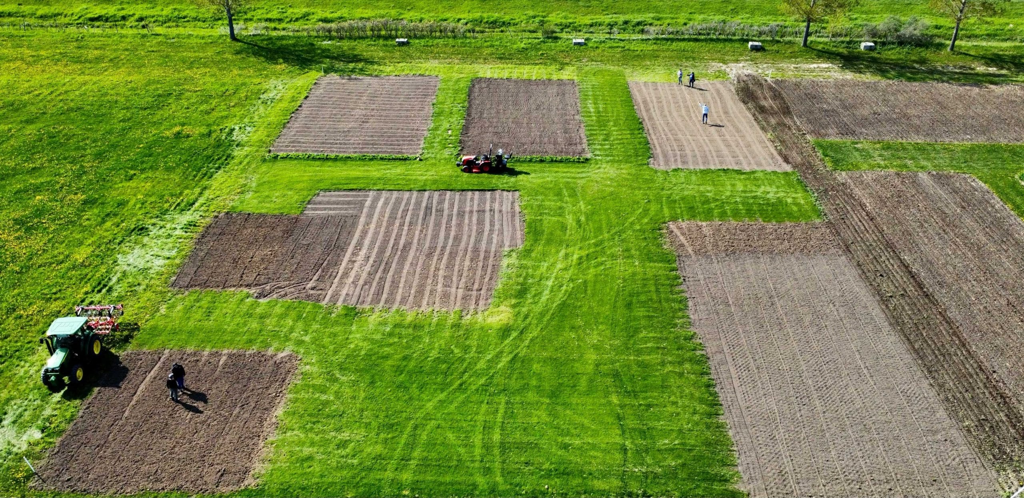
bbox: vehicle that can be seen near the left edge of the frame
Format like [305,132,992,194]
[41,311,108,386]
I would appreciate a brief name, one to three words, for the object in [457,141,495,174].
work vehicle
